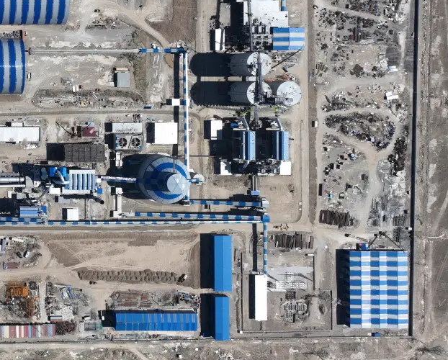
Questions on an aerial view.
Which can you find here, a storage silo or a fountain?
storage silo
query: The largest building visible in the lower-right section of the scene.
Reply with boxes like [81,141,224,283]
[344,250,407,328]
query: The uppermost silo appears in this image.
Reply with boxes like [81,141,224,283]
[229,52,271,78]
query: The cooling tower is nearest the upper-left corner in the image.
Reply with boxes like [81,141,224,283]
[114,134,142,150]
